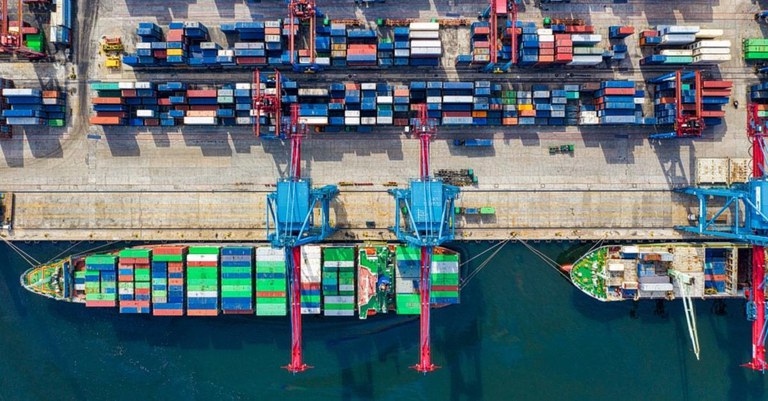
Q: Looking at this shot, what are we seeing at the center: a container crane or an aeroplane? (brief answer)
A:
container crane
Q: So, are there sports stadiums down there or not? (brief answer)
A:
No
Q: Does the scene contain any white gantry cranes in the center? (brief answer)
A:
No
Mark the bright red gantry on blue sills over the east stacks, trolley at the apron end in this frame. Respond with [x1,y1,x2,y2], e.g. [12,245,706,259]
[646,69,705,141]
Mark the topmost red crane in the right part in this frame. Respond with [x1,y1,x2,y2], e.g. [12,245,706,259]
[478,0,520,78]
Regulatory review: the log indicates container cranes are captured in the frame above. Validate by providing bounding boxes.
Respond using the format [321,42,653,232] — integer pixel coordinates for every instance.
[0,0,52,58]
[286,0,324,78]
[265,103,343,378]
[646,69,705,141]
[252,69,293,141]
[478,0,520,78]
[384,103,455,378]
[672,103,768,378]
